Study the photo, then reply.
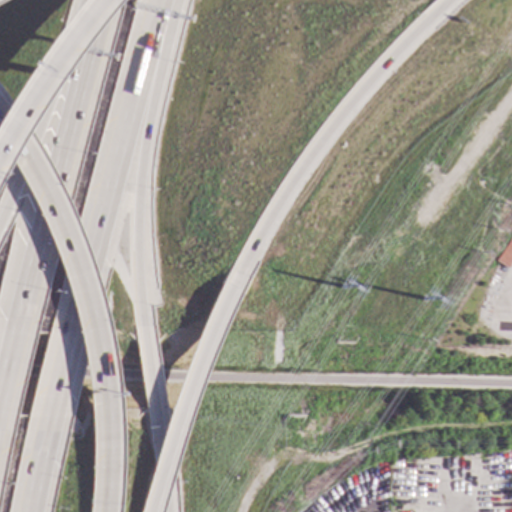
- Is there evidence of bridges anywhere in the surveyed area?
Yes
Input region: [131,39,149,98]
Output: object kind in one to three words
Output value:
vehicle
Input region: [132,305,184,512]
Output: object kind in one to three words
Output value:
bridge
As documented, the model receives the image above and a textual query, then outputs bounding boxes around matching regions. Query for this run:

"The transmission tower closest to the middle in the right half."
[341,282,374,296]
